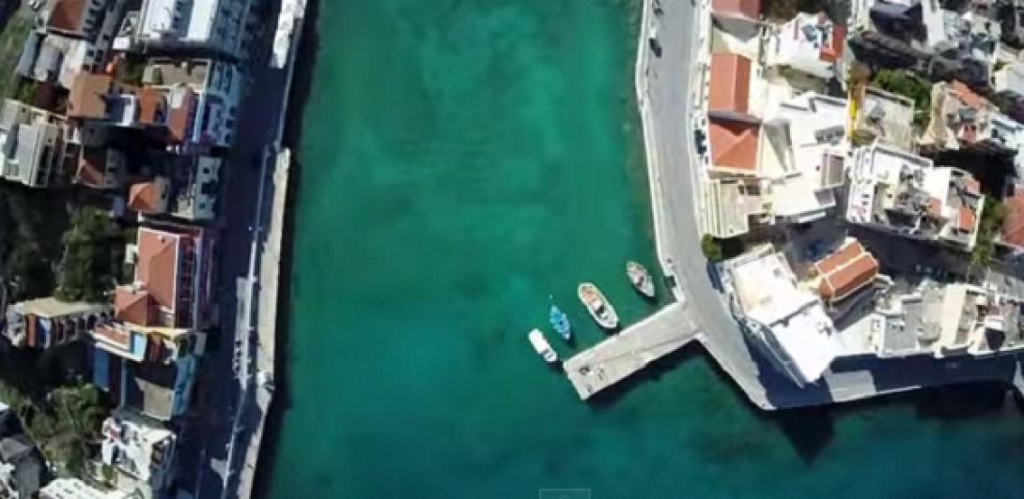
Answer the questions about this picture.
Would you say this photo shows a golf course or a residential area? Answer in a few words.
residential area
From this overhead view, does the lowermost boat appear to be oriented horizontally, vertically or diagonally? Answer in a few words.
diagonally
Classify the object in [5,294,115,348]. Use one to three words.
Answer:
house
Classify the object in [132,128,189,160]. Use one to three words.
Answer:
house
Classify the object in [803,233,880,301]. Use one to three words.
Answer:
building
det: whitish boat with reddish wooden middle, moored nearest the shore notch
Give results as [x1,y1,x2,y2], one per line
[629,263,656,299]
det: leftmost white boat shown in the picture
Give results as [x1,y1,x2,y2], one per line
[526,326,557,363]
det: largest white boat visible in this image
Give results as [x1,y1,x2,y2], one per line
[581,284,616,328]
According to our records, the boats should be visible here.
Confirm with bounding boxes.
[526,326,557,363]
[581,284,616,328]
[550,306,569,340]
[629,263,656,299]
